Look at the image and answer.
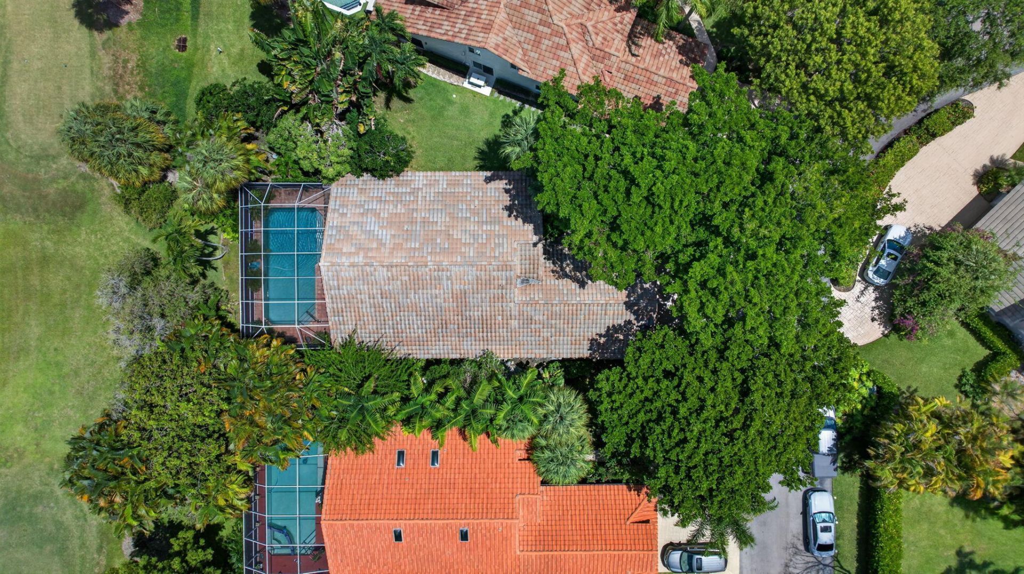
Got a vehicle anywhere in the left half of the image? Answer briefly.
No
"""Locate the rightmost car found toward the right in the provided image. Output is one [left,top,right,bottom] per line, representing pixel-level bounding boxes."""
[861,222,912,290]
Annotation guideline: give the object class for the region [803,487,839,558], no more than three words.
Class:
car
